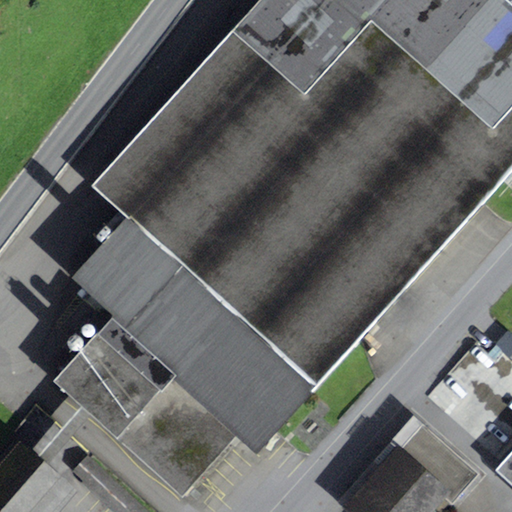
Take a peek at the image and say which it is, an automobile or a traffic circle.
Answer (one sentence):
There is an automobile in the scene.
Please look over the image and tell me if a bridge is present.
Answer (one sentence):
Yes, there's a bridge here.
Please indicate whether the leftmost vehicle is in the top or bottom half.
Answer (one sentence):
It is in the bottom half that the leftmost vehicle appears.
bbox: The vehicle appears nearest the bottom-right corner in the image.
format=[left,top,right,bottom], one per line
[487,423,509,444]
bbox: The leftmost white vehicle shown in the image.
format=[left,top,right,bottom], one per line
[444,378,466,399]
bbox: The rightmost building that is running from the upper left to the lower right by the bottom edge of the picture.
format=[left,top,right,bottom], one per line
[394,416,478,504]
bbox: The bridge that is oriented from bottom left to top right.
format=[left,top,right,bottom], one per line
[38,406,90,465]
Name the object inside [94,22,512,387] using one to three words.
building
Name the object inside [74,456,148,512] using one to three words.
shed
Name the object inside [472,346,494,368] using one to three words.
vehicle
